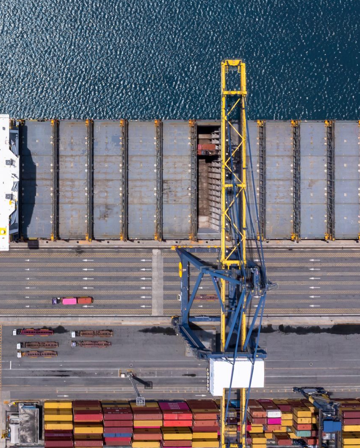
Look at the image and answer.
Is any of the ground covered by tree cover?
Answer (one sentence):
No, no tree cover is visible.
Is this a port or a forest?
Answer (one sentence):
This looks like a port.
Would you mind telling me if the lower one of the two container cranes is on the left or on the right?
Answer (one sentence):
The lower one of the two container cranes is on the right side of the image.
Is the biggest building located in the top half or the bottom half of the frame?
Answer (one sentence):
Seen from above, the biggest building lies in the bottom half of the view.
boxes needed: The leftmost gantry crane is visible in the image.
[169,59,271,448]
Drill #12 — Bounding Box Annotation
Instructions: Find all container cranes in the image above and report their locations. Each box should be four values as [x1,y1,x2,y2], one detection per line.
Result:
[169,59,271,448]
[293,389,344,448]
